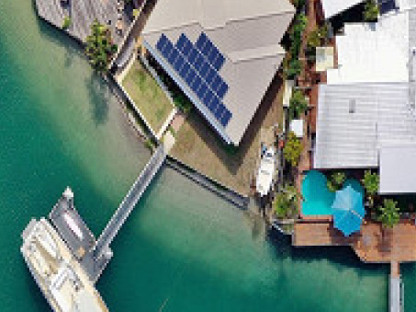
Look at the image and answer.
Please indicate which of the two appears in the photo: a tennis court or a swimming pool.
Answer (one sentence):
The one in the frame is a swimming pool.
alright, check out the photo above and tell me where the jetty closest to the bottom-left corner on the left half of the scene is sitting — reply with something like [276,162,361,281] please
[51,188,114,282]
